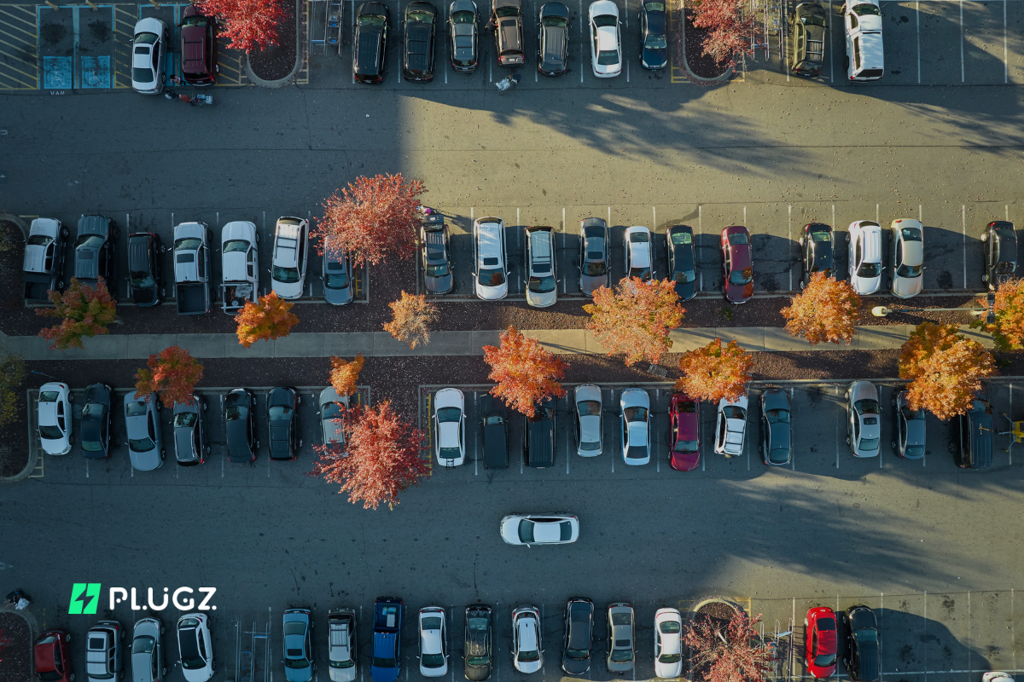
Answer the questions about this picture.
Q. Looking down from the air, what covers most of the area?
paved ground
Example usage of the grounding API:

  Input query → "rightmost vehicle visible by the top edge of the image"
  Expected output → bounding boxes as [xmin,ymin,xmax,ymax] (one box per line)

[843,0,891,85]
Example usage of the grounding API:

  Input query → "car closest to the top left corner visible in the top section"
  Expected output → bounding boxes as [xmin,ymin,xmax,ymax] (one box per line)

[127,19,169,95]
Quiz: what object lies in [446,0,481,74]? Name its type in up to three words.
car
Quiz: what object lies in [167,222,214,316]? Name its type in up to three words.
truck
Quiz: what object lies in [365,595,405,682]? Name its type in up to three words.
truck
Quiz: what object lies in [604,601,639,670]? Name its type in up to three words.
car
